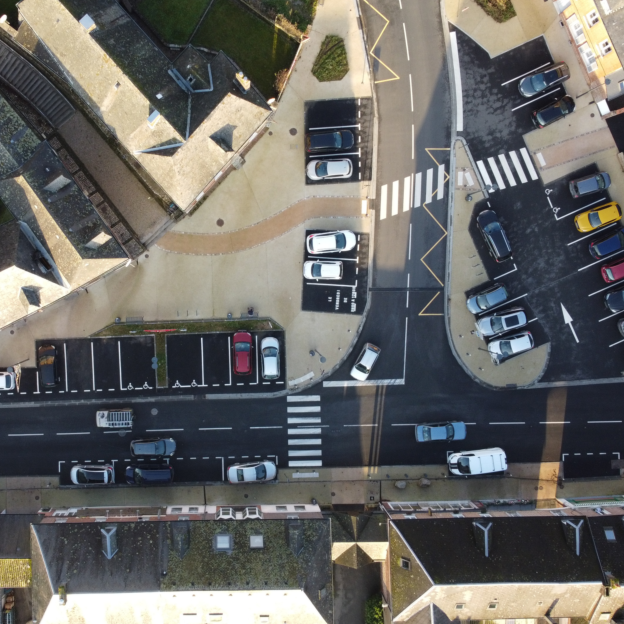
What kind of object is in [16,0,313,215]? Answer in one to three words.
house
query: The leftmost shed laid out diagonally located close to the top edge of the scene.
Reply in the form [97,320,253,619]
[13,21,71,85]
